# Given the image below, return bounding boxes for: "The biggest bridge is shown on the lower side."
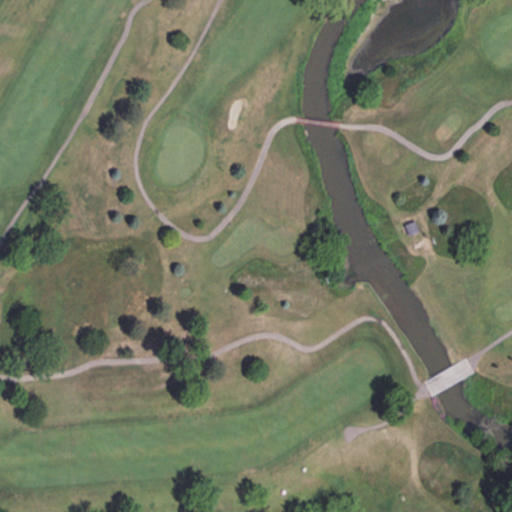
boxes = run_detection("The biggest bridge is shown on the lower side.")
[424,358,476,398]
